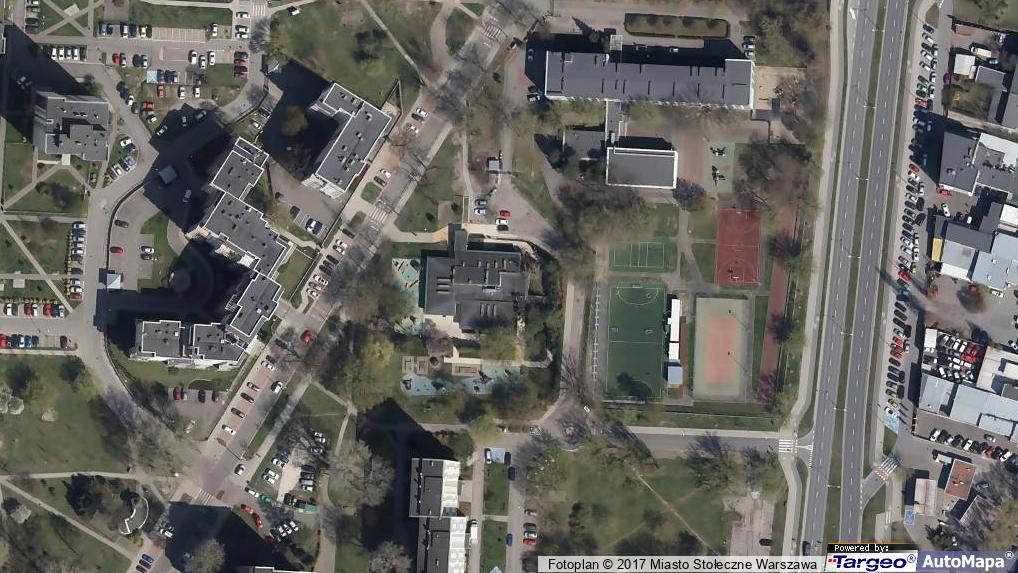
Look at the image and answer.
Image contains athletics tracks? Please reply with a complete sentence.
Yes, an athletics track is visible in the scene.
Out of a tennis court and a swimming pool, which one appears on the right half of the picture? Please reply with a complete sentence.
There is a tennis court on the right half of the picture.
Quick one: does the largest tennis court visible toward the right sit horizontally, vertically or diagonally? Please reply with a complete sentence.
Seen from above, the largest tennis court visible toward the right lies vertically.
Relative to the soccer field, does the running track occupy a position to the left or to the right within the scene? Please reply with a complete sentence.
The running track appears to the right of the soccer field in this view.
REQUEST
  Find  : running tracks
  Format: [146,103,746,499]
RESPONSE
[757,204,800,402]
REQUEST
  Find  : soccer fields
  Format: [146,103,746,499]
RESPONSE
[603,283,667,402]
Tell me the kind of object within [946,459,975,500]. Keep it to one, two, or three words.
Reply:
house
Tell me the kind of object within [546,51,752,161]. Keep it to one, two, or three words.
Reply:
building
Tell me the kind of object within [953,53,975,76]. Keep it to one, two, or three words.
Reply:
shed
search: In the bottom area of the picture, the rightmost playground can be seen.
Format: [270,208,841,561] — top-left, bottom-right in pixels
[458,364,520,394]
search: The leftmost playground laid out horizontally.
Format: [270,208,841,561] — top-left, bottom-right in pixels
[402,372,453,396]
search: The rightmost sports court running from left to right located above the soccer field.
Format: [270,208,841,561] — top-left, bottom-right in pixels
[609,241,677,271]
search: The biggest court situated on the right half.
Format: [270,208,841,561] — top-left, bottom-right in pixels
[693,297,748,398]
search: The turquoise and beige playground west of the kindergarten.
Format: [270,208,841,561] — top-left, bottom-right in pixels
[391,258,424,337]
